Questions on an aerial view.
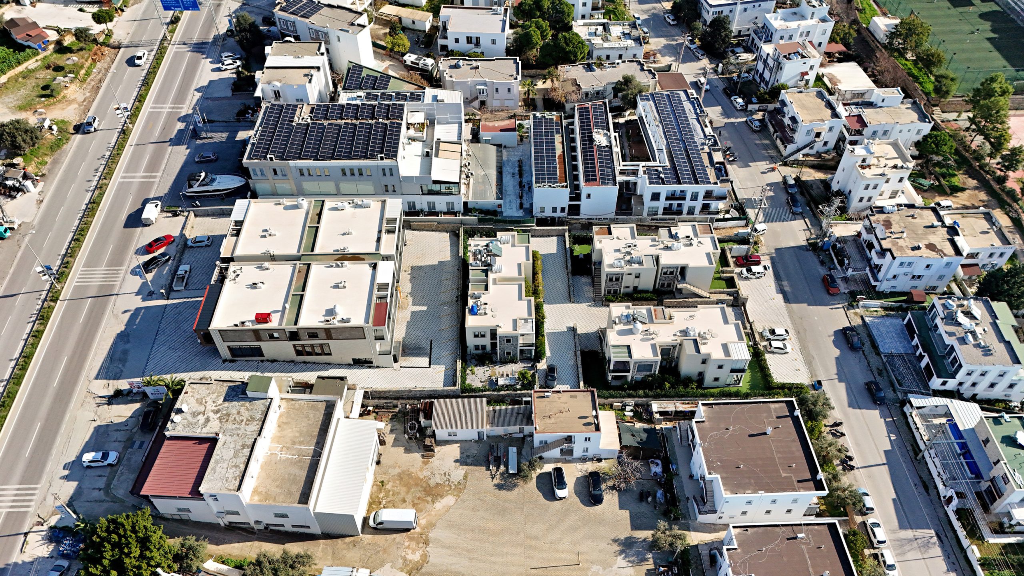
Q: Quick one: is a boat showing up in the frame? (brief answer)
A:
Yes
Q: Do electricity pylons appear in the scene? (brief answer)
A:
Yes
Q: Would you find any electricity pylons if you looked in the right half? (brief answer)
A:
Yes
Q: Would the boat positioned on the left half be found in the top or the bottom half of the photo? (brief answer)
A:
top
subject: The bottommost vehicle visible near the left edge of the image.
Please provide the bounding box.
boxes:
[45,551,80,576]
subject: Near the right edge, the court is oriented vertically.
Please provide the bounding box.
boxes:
[989,110,1024,199]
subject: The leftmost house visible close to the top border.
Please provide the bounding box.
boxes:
[4,16,51,56]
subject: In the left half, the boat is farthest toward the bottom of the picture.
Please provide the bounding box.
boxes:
[172,164,246,191]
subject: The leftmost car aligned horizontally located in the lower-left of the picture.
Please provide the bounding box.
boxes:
[79,449,121,470]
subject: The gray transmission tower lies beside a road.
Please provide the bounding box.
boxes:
[812,191,845,245]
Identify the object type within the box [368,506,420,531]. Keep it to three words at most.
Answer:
vehicle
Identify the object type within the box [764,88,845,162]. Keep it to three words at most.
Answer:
house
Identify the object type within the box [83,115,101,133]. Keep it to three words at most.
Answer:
car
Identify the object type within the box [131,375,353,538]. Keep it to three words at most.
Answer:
building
